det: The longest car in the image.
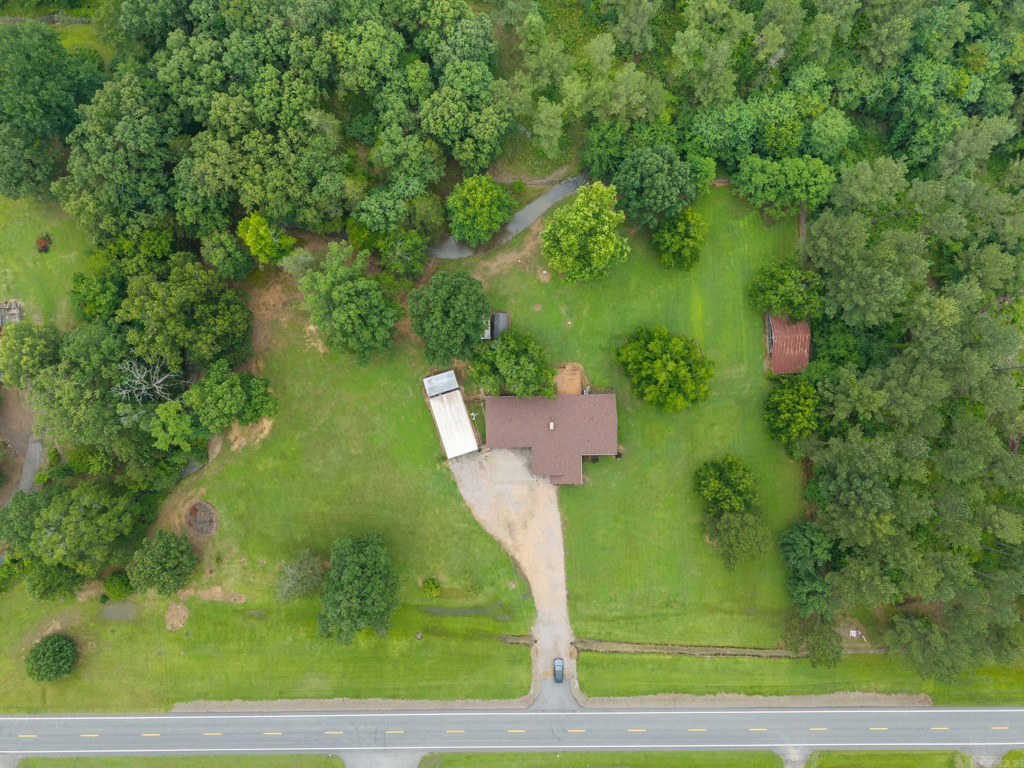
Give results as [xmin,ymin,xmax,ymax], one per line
[553,660,565,685]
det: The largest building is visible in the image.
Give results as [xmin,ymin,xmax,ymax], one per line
[485,393,617,484]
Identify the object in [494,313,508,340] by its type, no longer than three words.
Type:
shed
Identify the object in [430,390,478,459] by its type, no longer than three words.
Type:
building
